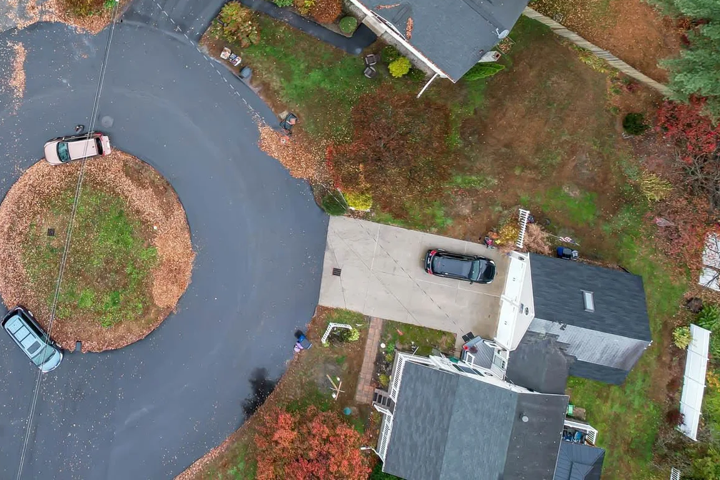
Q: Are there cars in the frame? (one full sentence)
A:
Yes, the frame does contain a car.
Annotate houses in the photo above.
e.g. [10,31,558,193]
[349,0,529,96]
[341,251,654,480]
